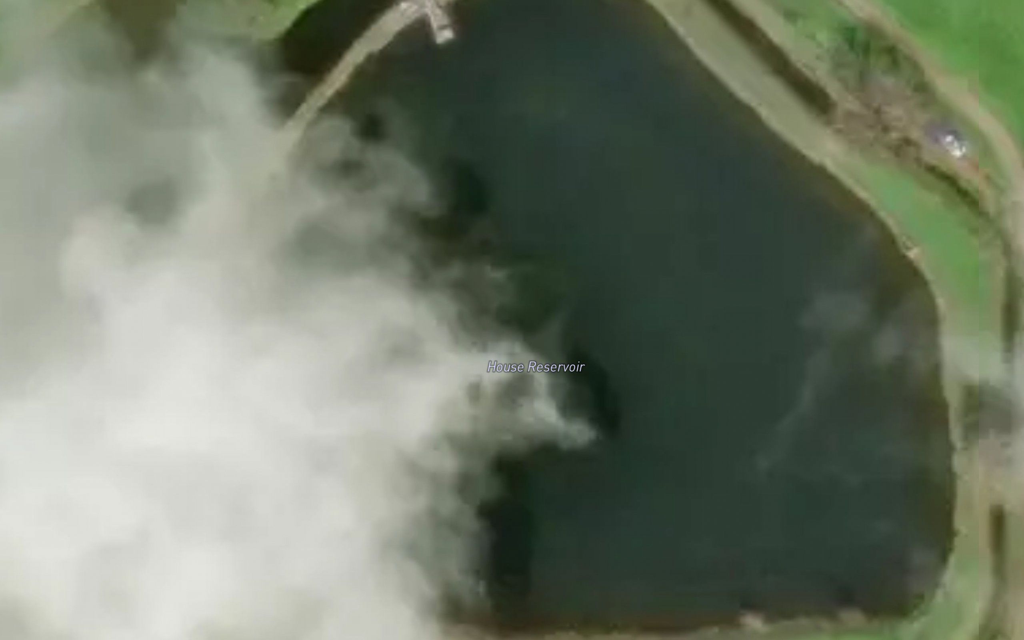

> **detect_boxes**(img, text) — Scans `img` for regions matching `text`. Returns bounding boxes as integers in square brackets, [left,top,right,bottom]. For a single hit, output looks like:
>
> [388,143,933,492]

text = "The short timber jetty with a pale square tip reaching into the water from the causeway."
[427,0,453,42]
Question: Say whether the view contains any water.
Yes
